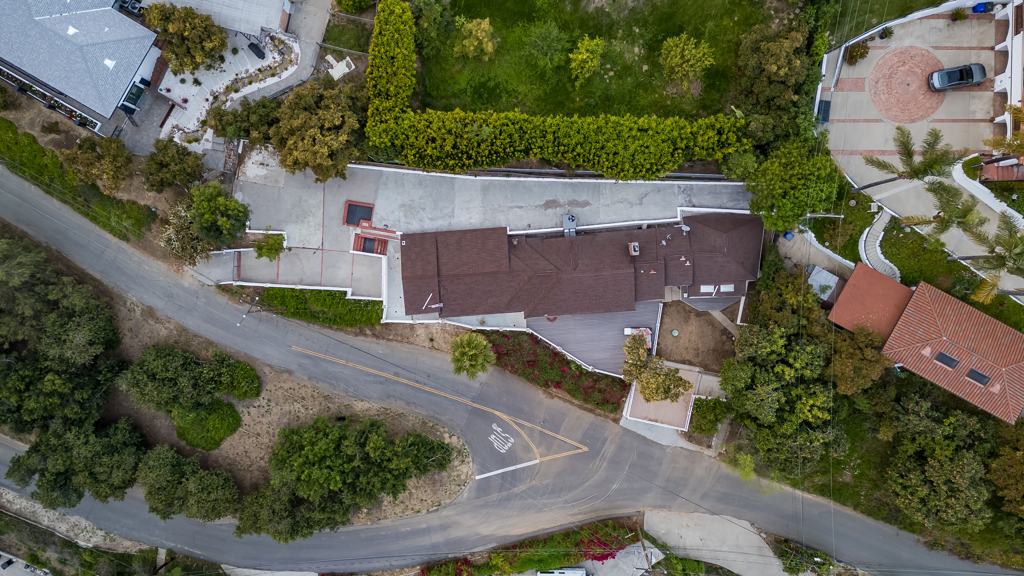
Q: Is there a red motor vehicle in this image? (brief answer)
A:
No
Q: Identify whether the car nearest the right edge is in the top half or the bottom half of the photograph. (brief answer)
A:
top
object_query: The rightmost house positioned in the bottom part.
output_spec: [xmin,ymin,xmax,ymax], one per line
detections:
[876,280,1024,426]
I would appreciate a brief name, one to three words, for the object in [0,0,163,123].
house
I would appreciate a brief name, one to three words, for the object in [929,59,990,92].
car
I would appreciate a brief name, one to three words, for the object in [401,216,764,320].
house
